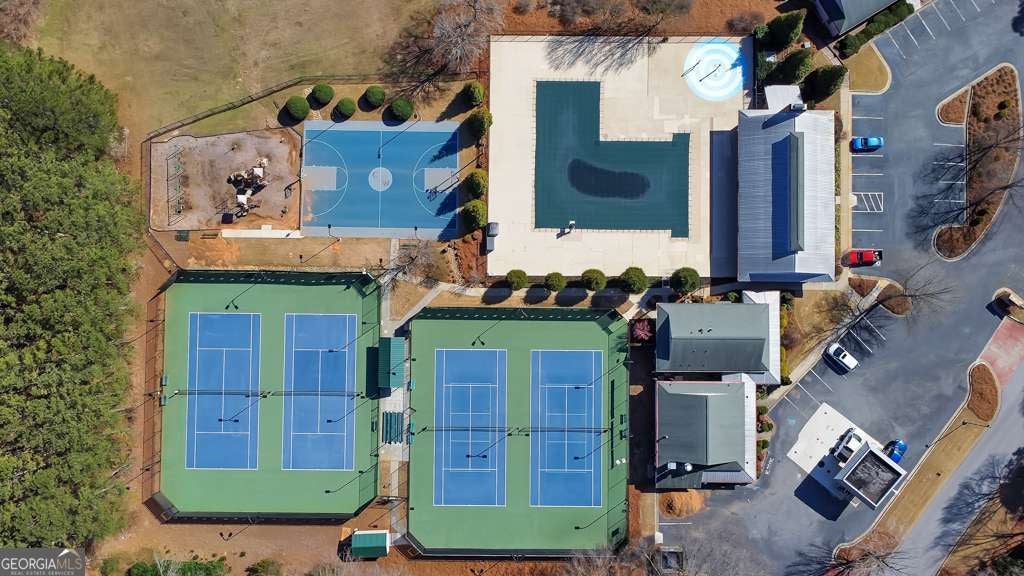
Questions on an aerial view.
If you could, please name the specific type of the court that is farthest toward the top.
basketball court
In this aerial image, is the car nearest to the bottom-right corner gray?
No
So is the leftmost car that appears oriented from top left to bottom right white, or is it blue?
white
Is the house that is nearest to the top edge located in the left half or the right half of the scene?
right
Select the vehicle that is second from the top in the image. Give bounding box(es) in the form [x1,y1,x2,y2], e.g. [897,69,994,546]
[848,250,885,265]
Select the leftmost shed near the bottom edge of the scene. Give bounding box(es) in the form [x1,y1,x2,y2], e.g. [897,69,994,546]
[351,528,391,557]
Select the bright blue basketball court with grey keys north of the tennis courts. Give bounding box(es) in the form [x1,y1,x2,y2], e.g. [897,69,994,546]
[302,121,460,239]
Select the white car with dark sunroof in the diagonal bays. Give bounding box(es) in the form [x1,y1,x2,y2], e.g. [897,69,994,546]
[827,343,861,371]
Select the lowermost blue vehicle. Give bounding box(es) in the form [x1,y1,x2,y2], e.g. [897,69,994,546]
[885,437,908,464]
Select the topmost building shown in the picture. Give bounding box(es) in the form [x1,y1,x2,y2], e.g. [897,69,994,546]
[806,0,900,40]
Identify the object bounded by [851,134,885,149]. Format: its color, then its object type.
blue car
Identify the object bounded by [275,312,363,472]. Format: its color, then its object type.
blue tennis court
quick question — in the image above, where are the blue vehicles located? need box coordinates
[851,134,885,149]
[885,437,908,464]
